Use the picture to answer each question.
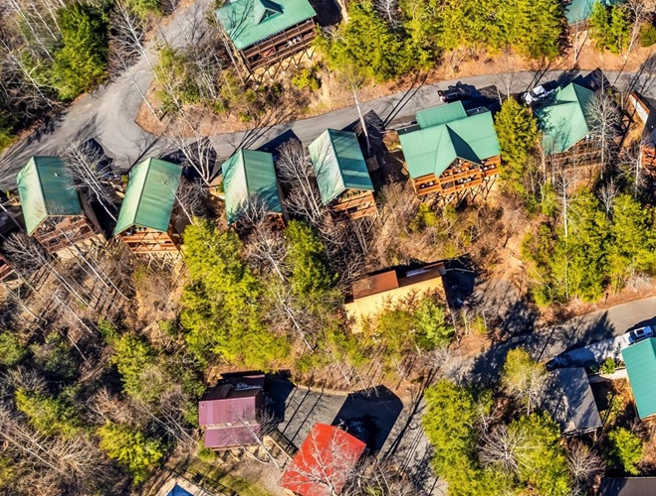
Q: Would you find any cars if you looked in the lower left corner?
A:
No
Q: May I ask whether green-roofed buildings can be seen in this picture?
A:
Yes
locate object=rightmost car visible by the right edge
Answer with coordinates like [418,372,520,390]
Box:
[621,318,656,343]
